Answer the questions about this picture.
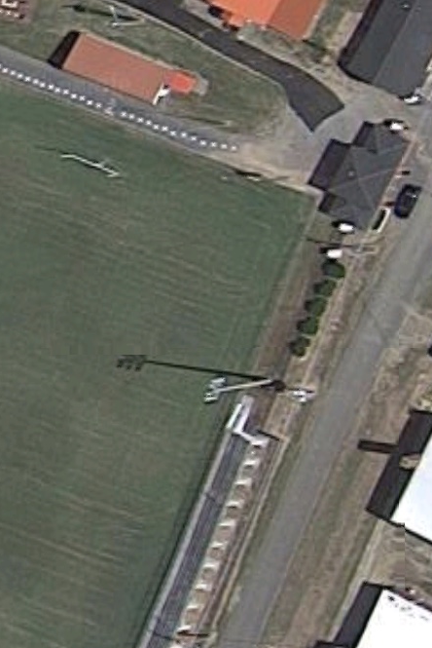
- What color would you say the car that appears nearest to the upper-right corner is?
black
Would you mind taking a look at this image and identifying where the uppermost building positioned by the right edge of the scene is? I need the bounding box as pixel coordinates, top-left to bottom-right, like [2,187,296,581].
[347,0,432,95]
